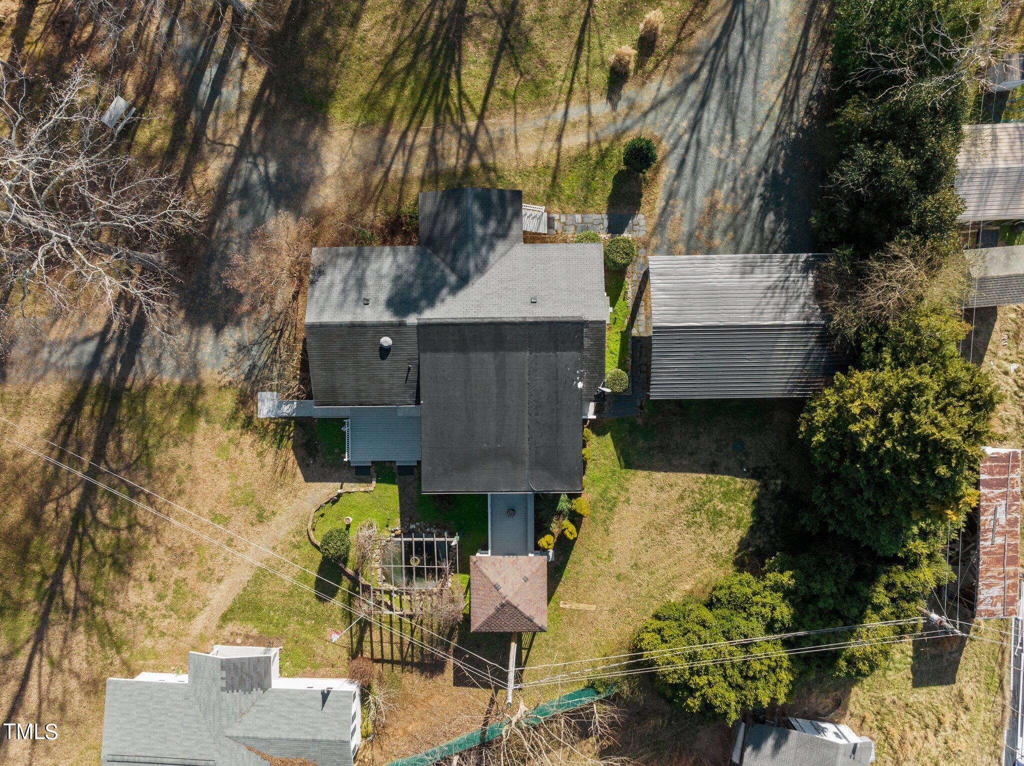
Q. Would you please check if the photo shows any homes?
Yes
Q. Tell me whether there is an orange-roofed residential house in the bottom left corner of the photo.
No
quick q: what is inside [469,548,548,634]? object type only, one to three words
gazebo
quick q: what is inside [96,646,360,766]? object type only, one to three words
house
